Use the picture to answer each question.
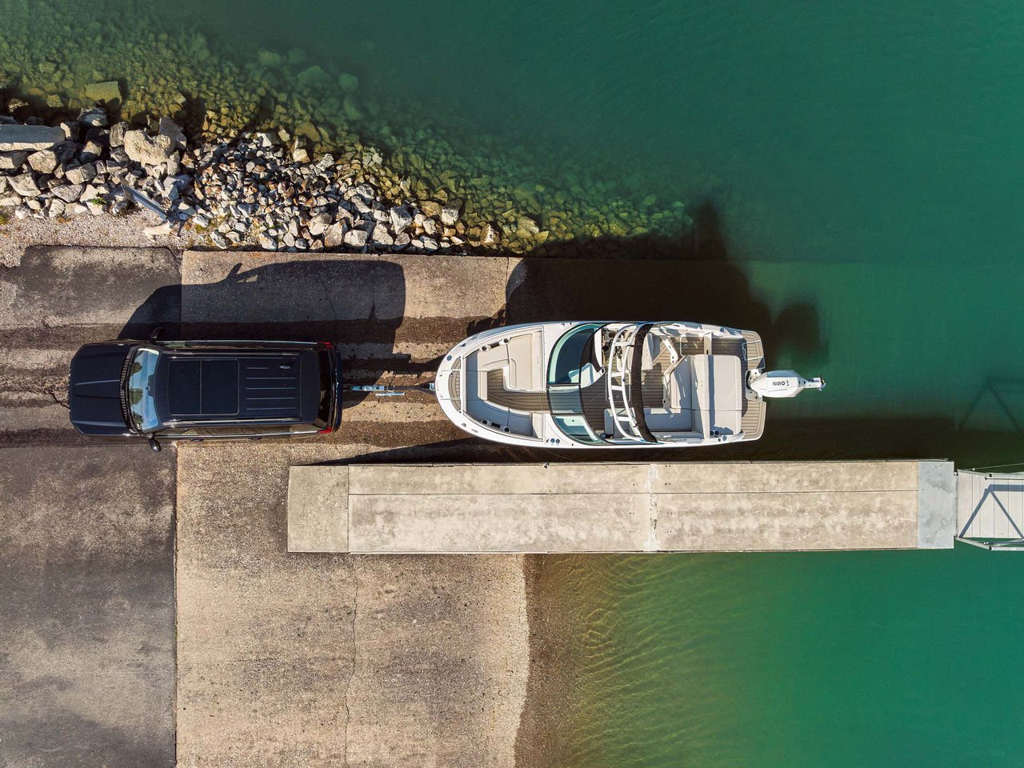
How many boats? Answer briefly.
1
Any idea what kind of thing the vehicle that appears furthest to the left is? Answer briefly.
automobile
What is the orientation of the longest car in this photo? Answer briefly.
from side to side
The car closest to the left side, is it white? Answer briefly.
No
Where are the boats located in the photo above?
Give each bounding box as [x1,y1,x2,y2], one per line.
[434,319,829,450]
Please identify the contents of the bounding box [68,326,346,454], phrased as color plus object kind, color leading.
black car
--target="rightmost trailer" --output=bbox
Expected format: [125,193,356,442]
[349,378,438,401]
